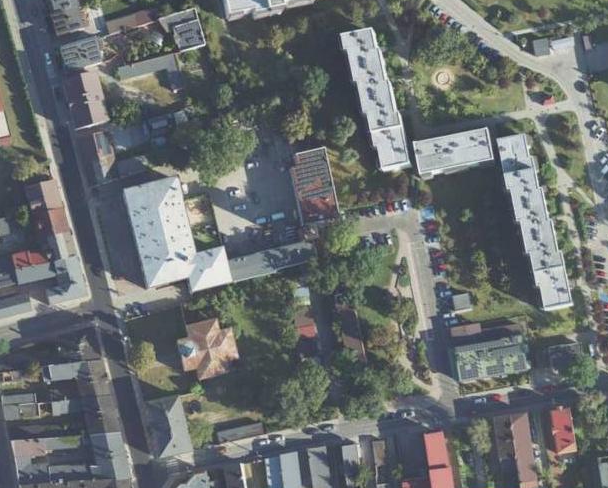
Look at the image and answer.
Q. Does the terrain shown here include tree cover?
Yes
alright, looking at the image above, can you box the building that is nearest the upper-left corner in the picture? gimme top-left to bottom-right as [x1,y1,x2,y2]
[51,0,89,40]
